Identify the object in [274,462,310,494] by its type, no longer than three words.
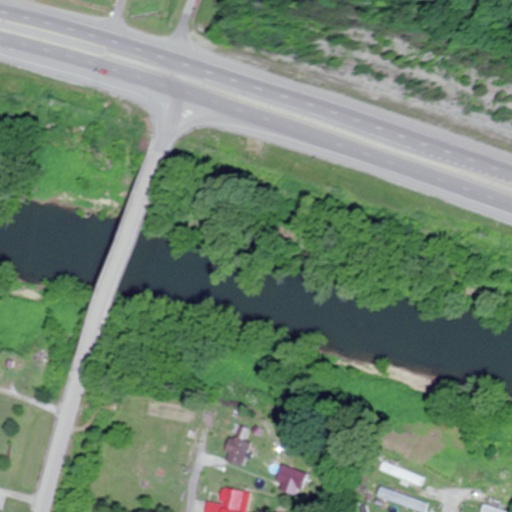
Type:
house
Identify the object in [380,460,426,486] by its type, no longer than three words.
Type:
house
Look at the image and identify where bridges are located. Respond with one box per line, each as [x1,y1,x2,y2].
[78,152,164,347]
